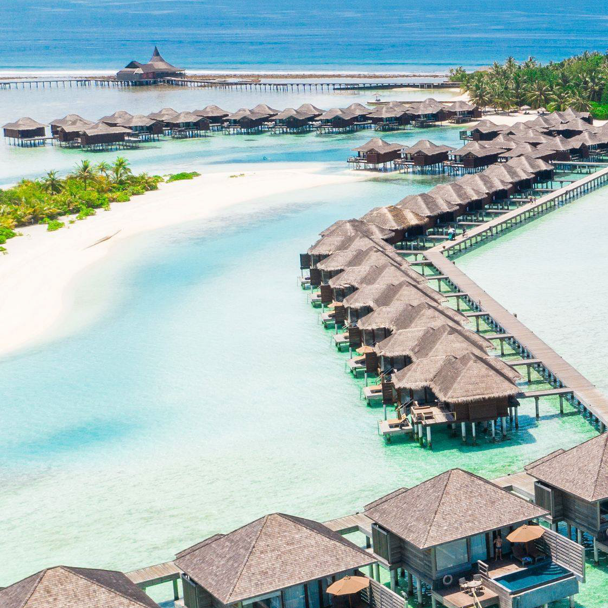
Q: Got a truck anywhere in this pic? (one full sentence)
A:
No, no truck is visible in the view.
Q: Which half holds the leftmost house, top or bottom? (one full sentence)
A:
The leftmost house sits in the top half of the picture.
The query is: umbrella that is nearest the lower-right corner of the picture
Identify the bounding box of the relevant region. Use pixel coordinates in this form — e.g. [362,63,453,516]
[501,523,545,567]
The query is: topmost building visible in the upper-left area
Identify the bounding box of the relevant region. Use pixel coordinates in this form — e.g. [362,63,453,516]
[107,44,184,94]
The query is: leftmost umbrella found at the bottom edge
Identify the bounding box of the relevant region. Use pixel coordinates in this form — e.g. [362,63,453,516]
[321,575,369,608]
